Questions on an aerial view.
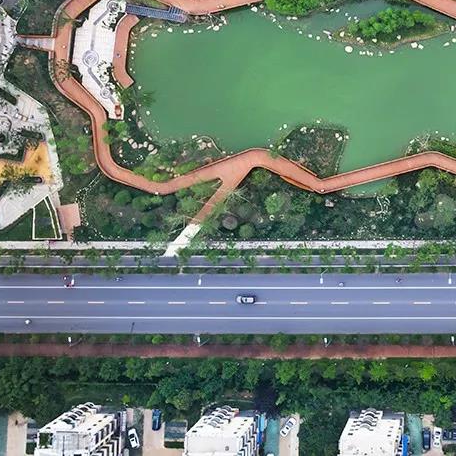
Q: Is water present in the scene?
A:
Yes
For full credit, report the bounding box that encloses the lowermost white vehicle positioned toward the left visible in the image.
[128,427,142,448]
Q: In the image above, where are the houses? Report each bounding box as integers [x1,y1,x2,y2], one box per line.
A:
[184,407,261,456]
[37,403,122,456]
[339,409,406,456]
